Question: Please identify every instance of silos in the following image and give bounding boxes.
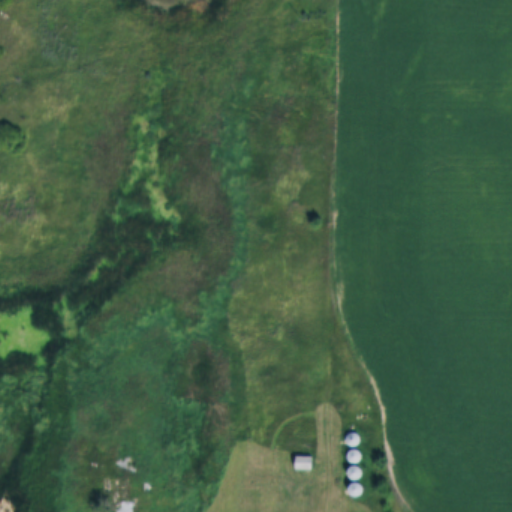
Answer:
[346,449,362,465]
[347,466,362,482]
[347,482,363,499]
[346,432,361,448]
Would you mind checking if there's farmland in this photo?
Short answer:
Yes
